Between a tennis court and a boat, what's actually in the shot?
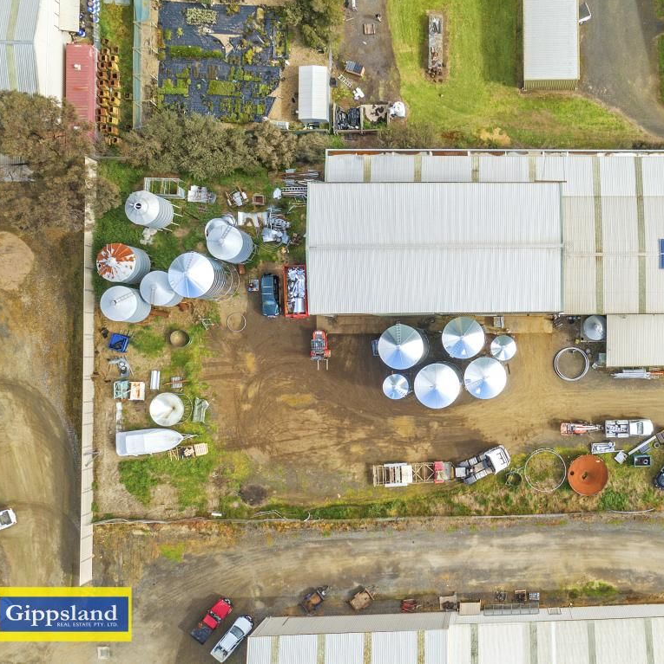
boat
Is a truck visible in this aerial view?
Yes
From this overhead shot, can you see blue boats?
No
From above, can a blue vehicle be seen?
Yes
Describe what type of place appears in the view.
industrial area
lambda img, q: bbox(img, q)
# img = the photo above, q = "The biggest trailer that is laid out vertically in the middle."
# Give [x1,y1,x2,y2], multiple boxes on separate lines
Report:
[282,264,308,318]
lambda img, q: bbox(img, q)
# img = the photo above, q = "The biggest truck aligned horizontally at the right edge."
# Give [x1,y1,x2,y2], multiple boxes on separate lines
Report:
[605,417,655,439]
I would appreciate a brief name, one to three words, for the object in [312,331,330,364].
work vehicle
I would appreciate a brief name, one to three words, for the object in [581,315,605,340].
silo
